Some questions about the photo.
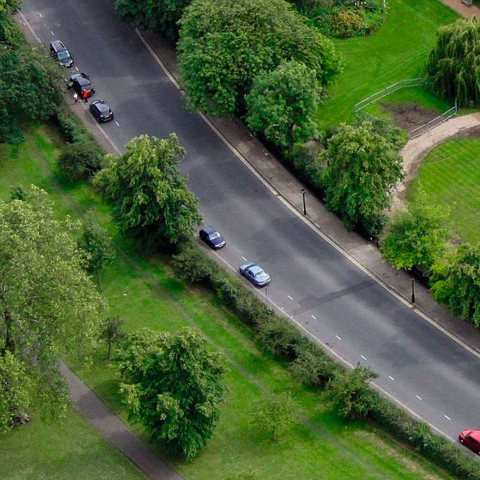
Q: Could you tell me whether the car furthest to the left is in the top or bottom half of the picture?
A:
top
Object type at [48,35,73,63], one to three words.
car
